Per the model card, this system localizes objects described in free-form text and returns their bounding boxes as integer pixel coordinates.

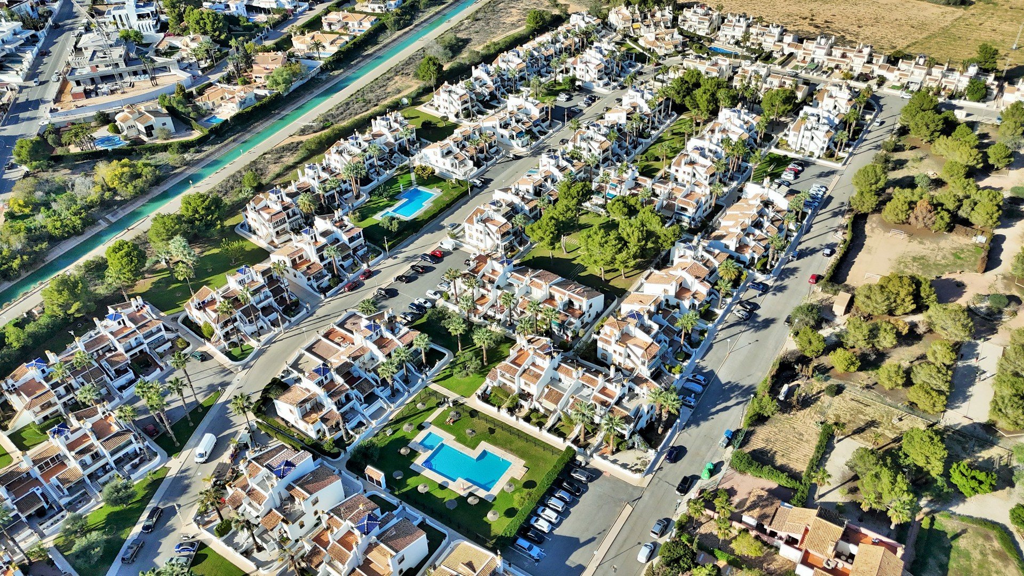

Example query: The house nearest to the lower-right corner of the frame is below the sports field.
[745,486,910,576]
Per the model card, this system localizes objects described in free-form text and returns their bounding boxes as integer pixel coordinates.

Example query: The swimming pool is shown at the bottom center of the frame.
[408,422,529,502]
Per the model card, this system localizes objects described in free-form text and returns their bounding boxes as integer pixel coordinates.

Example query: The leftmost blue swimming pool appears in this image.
[91,133,128,148]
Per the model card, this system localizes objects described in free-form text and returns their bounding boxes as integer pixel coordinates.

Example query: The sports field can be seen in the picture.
[834,212,985,287]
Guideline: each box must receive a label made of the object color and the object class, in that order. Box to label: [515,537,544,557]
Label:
blue car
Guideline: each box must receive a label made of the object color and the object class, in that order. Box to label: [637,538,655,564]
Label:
white car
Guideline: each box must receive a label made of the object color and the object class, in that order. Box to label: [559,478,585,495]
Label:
black car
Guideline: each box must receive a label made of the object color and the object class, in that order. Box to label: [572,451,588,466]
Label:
white car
